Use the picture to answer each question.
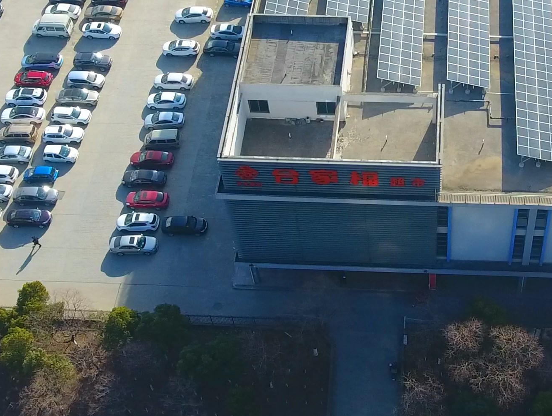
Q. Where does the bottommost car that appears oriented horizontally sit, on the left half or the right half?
left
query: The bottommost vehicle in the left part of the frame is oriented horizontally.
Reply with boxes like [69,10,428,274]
[110,232,160,255]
